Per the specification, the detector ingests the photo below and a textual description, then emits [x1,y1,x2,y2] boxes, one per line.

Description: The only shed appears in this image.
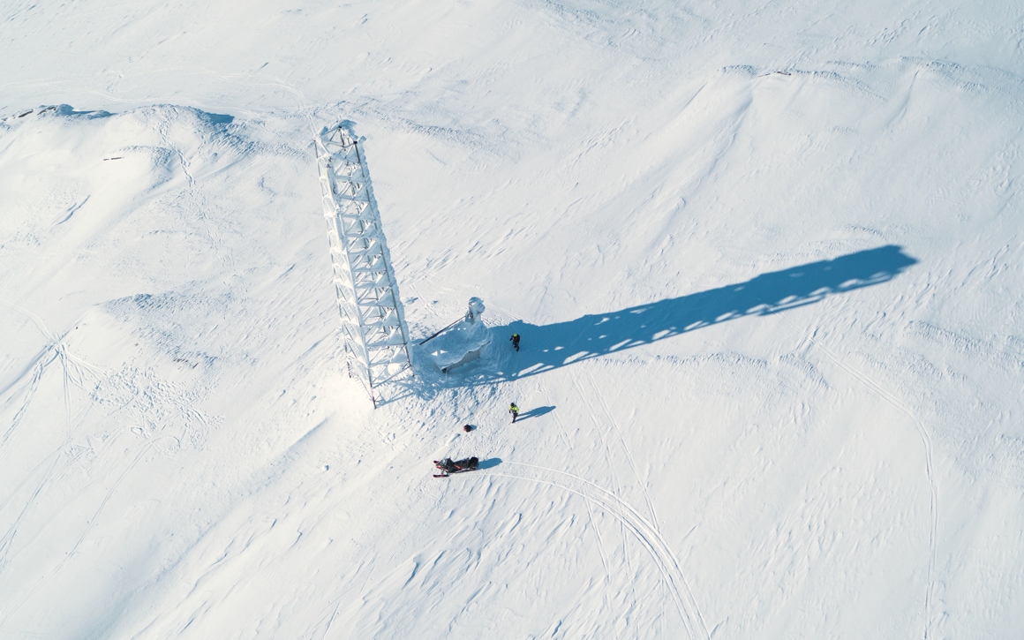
[420,319,495,377]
